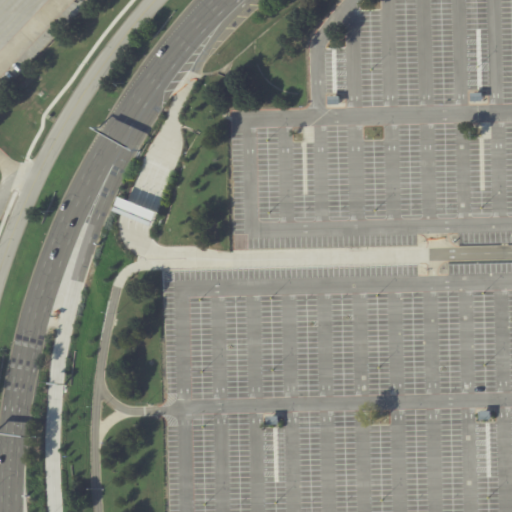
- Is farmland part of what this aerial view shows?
No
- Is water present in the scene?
No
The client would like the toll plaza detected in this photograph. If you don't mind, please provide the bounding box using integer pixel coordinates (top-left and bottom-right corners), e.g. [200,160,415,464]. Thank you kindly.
[114,192,163,226]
